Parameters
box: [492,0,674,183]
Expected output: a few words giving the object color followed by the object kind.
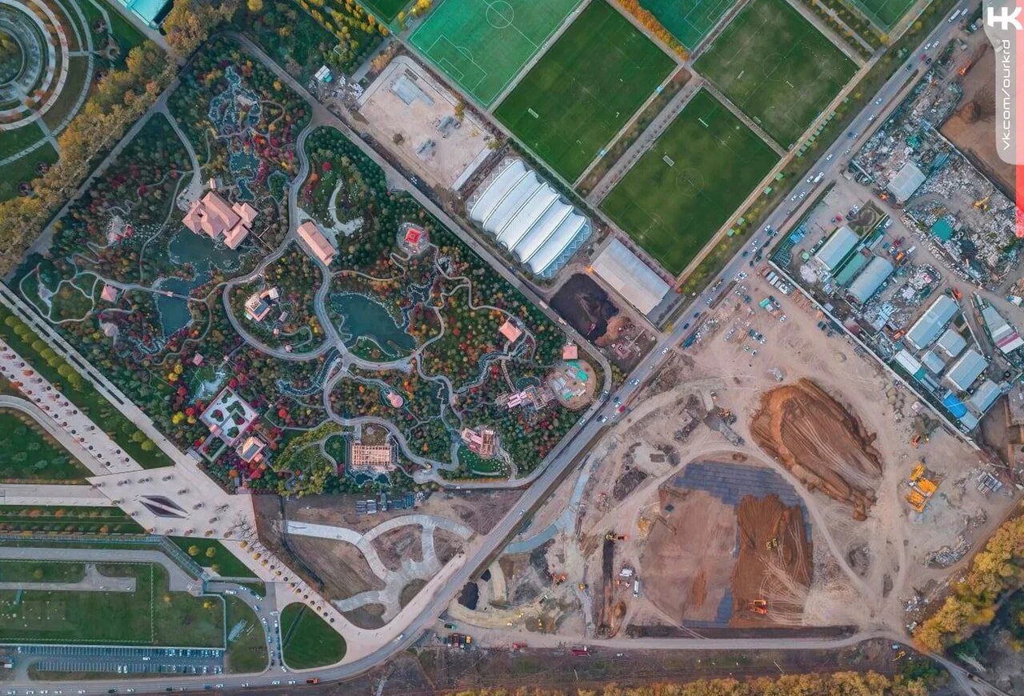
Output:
green soccer field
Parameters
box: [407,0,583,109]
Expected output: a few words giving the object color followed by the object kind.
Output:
green soccer field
